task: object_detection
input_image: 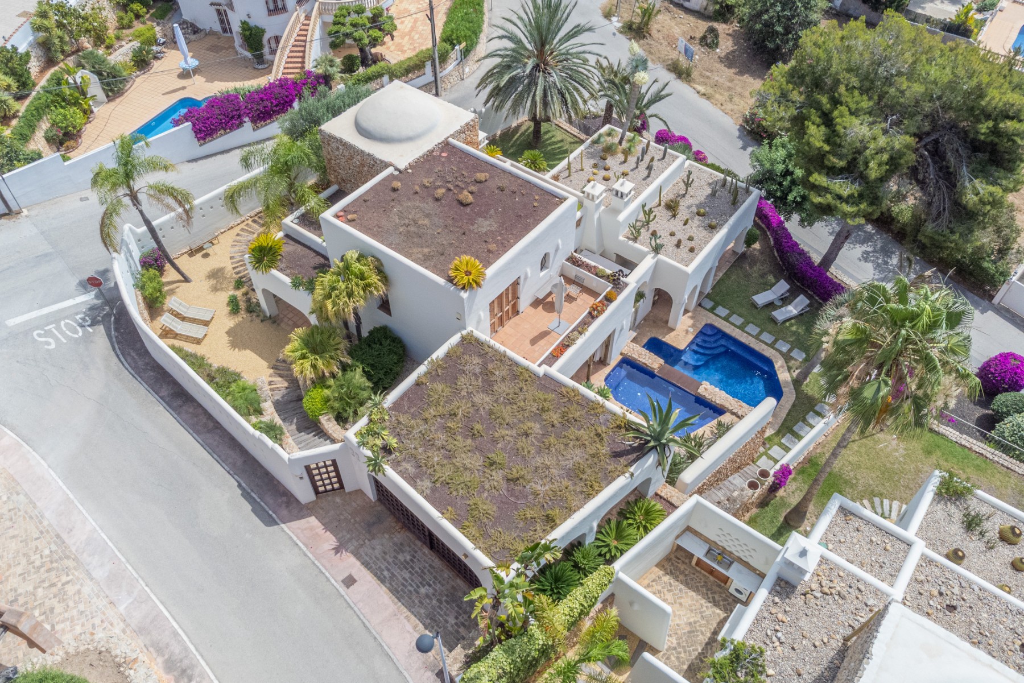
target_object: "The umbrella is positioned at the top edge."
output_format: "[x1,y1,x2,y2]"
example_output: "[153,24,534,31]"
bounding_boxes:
[174,23,195,83]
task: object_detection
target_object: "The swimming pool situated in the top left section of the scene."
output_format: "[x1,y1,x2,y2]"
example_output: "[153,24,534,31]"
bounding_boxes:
[127,96,233,140]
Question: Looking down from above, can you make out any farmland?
No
